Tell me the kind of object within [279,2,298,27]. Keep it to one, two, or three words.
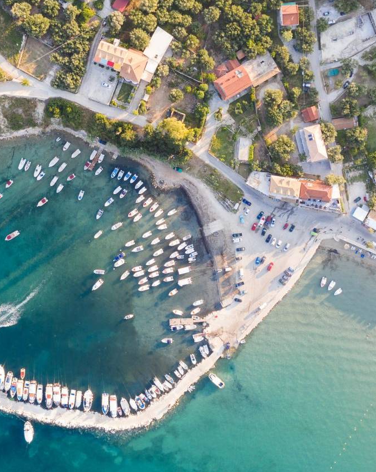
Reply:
house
